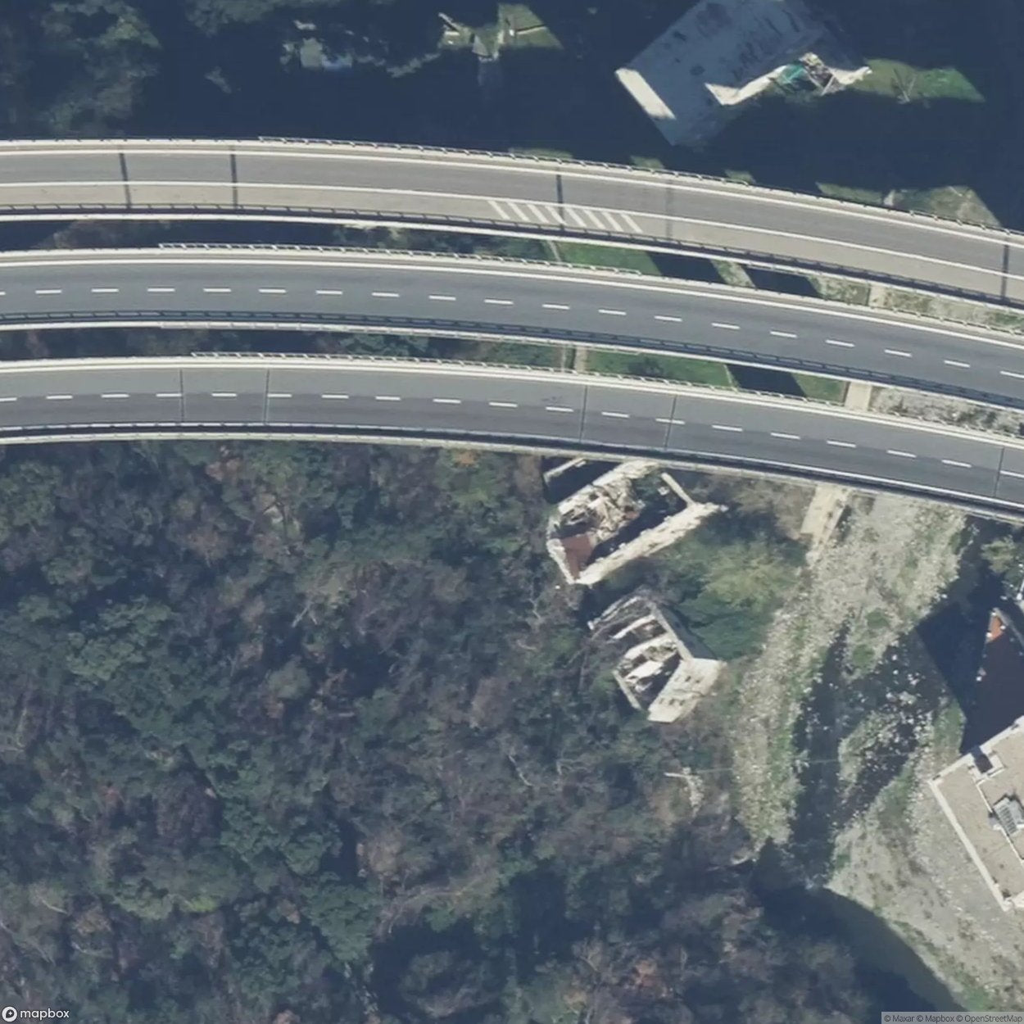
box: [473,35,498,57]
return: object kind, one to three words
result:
shed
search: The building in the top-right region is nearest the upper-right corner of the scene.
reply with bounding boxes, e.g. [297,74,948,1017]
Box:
[616,0,880,150]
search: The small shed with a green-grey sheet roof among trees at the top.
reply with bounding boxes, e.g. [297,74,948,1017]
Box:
[301,39,344,71]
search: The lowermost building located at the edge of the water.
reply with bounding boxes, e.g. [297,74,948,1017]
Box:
[930,716,1024,913]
